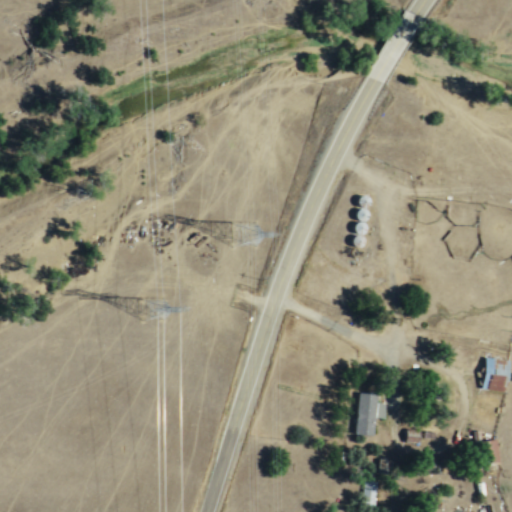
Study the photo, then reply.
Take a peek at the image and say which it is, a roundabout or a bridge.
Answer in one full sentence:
Of the two, only a bridge appears.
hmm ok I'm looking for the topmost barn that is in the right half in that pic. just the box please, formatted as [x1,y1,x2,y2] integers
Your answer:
[480,358,510,392]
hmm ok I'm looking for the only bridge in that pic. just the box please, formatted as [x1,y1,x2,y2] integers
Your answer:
[366,14,428,82]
